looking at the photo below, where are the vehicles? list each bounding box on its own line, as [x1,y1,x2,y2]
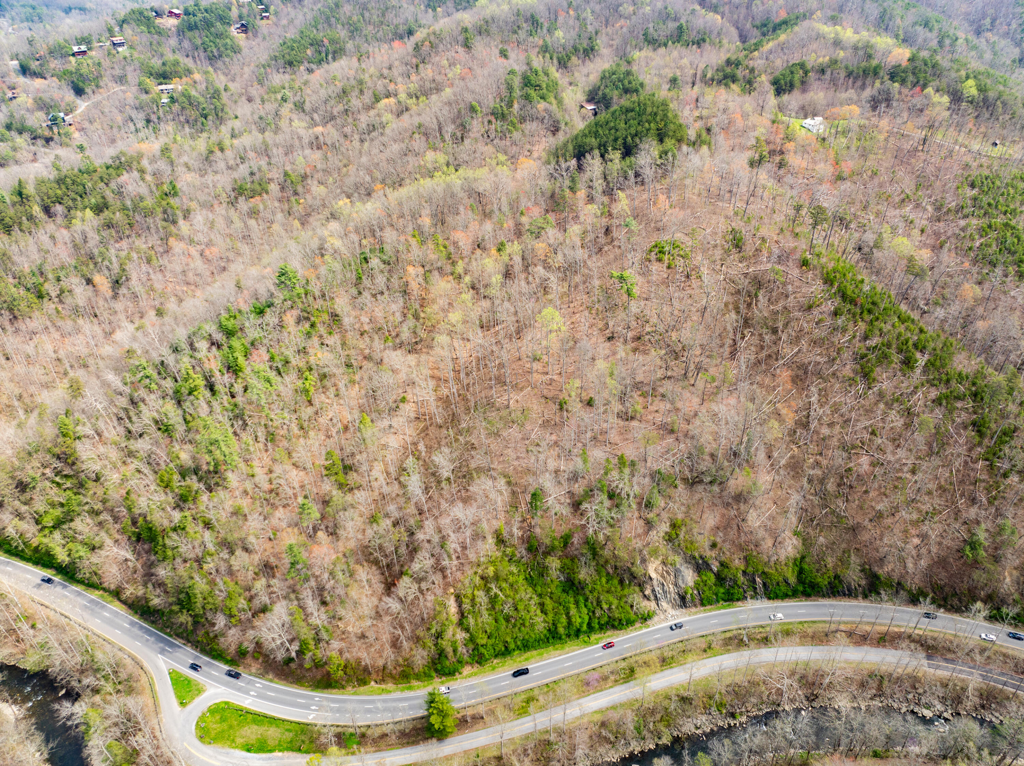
[602,641,615,649]
[436,685,451,694]
[770,613,784,620]
[1010,633,1024,641]
[512,667,529,677]
[225,669,241,679]
[189,663,202,672]
[981,634,997,641]
[923,612,938,619]
[670,621,684,630]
